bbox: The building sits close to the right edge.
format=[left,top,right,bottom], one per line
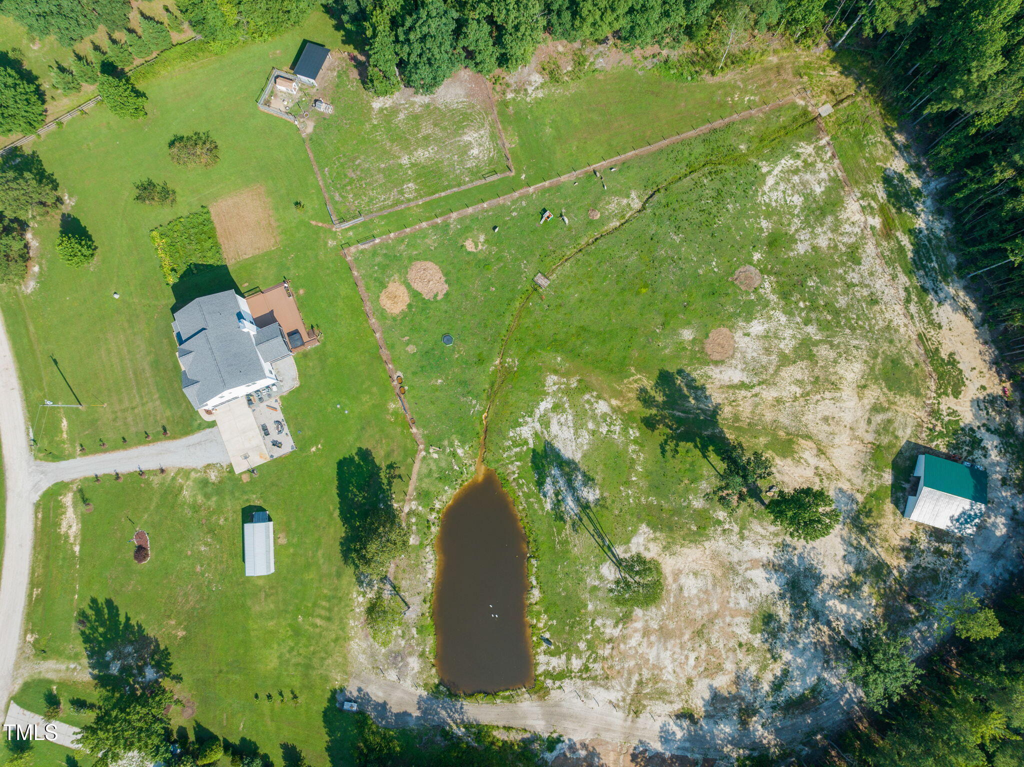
[902,454,989,538]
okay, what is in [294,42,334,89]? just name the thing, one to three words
shed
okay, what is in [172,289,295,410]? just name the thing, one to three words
house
